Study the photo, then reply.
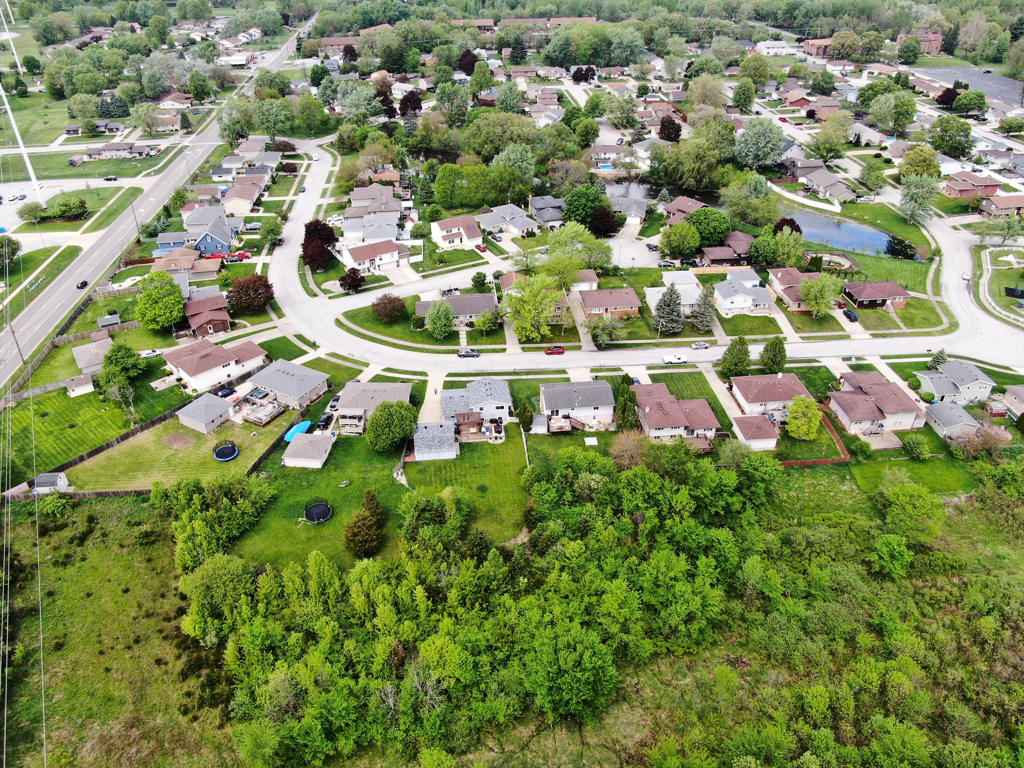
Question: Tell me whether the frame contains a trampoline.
Yes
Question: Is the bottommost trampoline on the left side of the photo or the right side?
left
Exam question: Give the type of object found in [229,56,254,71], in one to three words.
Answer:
building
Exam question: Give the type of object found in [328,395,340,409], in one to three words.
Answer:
vehicle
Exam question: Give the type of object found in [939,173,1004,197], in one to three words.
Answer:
house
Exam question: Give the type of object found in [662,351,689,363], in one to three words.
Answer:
vehicle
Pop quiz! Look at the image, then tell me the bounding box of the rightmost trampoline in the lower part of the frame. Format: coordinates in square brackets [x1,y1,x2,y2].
[303,496,332,525]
